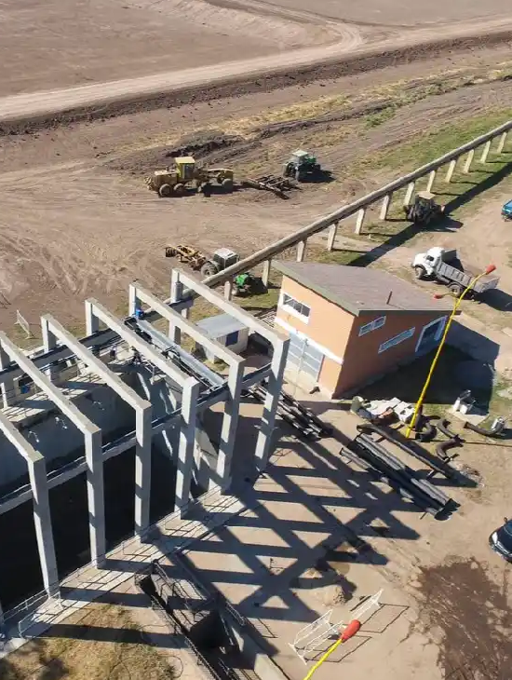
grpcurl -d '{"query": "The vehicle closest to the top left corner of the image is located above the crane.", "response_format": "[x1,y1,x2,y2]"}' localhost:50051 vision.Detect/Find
[146,155,227,194]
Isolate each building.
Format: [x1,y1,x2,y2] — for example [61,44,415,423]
[194,311,252,365]
[270,261,456,399]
